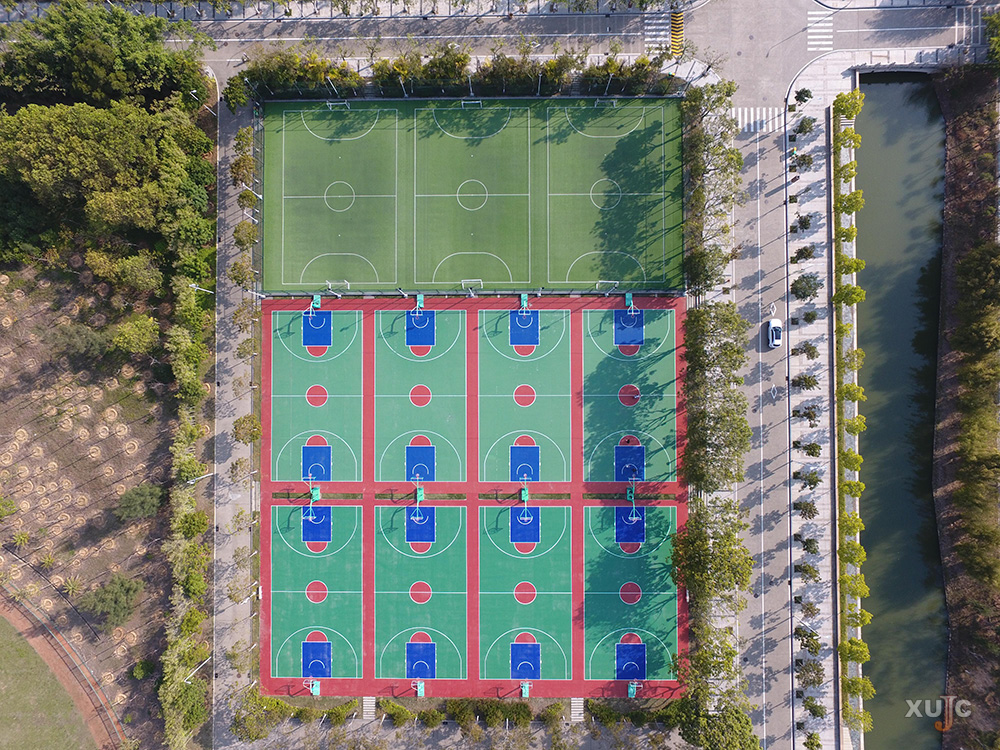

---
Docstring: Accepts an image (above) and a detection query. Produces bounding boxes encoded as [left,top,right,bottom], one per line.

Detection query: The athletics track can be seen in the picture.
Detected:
[0,589,121,750]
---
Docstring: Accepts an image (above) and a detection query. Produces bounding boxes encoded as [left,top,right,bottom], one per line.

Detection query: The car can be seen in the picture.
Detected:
[769,318,784,348]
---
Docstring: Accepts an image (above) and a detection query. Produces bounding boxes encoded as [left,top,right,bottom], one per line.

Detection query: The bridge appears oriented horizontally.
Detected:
[851,60,970,72]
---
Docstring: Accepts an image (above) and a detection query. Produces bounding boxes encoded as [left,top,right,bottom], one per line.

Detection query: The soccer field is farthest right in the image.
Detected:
[539,97,685,290]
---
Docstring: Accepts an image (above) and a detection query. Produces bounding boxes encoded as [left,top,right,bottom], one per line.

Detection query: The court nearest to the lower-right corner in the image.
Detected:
[577,494,689,694]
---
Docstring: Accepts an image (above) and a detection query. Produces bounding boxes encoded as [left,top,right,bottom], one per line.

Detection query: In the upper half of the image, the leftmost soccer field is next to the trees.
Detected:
[265,99,406,291]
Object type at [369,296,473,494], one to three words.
basketball court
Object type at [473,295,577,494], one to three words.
basketball court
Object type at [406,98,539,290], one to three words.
soccer field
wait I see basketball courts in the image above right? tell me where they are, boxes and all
[576,295,688,494]
[577,494,689,694]
[369,296,473,494]
[473,494,578,694]
[260,296,369,494]
[368,494,474,693]
[473,295,577,494]
[260,494,369,693]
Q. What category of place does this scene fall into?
sports ground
